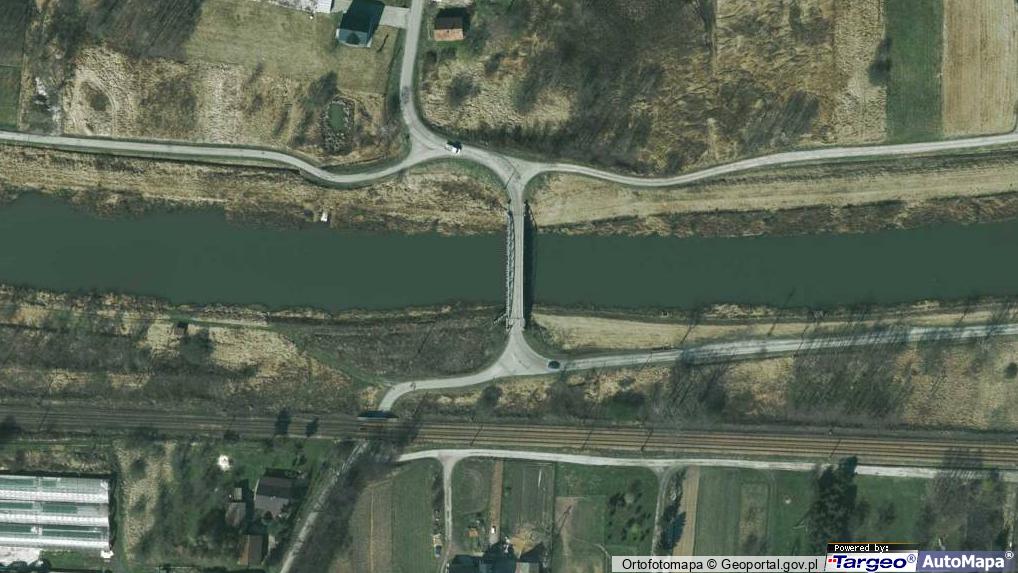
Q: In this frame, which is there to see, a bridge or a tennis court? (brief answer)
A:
bridge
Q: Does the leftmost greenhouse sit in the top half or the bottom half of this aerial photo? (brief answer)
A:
bottom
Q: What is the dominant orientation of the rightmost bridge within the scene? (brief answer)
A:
vertically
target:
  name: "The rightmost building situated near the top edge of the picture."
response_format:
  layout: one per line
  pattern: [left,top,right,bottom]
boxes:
[434,16,464,41]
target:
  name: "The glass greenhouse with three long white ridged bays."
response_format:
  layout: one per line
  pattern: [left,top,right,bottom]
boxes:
[0,474,109,550]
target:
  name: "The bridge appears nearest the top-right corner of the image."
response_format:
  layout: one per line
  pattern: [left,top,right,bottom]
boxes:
[492,203,534,329]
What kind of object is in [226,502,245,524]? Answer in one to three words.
shed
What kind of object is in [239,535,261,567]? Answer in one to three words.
barn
